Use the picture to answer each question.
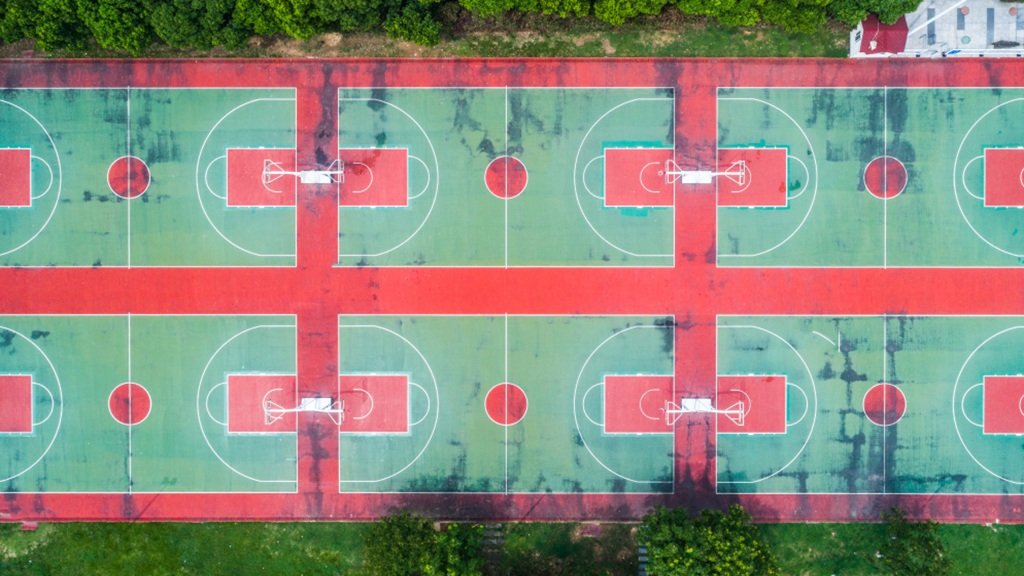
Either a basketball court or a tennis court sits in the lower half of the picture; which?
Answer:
basketball court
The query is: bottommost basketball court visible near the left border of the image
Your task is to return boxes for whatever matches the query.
[0,313,297,494]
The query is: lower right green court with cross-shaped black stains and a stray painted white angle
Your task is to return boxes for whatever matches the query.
[716,315,1024,495]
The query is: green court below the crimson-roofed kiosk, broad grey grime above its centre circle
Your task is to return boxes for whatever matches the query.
[717,87,1024,268]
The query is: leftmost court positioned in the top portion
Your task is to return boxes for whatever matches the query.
[0,86,297,268]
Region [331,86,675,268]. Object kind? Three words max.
basketball court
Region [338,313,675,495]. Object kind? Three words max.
basketball court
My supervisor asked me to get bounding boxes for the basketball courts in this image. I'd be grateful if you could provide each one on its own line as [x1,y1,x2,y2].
[338,313,675,495]
[0,86,297,268]
[331,86,675,268]
[717,87,1024,268]
[716,315,1024,495]
[0,313,297,494]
